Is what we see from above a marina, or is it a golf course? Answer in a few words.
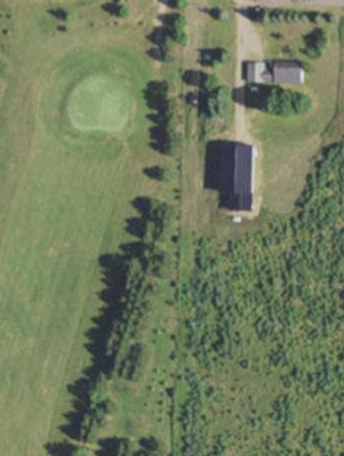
golf course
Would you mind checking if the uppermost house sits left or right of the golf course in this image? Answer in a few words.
right of it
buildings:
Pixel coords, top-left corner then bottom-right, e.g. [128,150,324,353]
[248,60,303,84]
[219,145,256,210]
